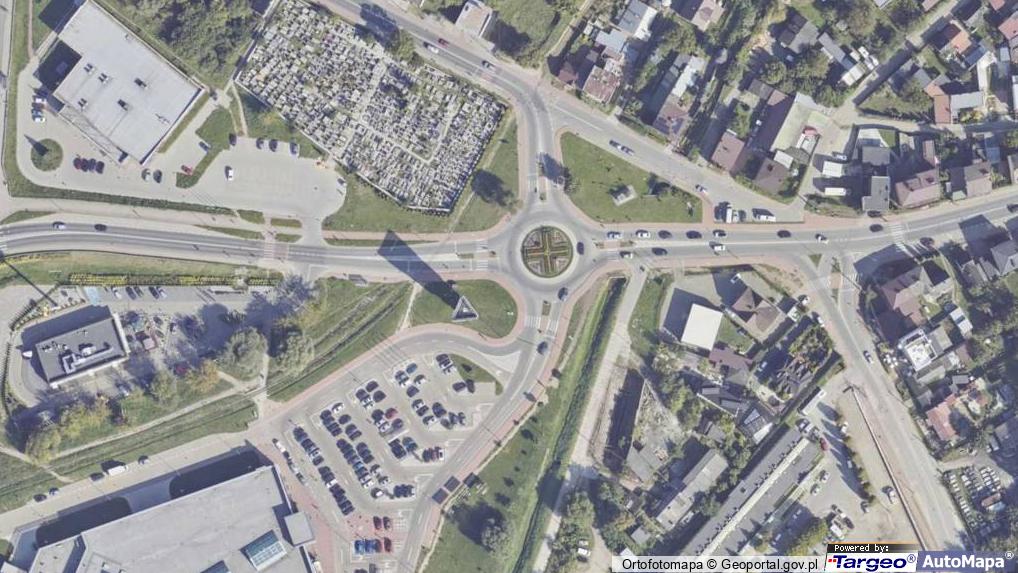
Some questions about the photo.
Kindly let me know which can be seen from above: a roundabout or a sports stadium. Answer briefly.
roundabout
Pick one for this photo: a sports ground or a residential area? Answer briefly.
residential area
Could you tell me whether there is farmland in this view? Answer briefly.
No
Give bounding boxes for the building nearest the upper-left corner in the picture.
[54,0,206,166]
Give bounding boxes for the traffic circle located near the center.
[501,205,593,297]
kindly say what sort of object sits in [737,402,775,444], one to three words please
house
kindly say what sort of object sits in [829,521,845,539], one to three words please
vehicle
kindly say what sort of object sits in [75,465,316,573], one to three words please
building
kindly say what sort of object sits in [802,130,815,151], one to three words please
vehicle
